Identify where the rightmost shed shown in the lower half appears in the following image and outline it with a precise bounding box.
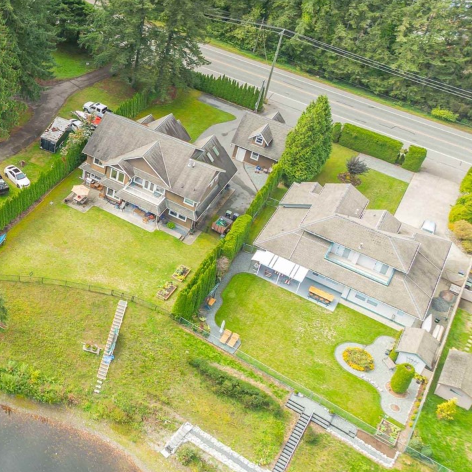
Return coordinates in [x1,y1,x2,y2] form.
[436,349,472,405]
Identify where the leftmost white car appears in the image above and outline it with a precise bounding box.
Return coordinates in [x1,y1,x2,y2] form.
[0,165,34,190]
